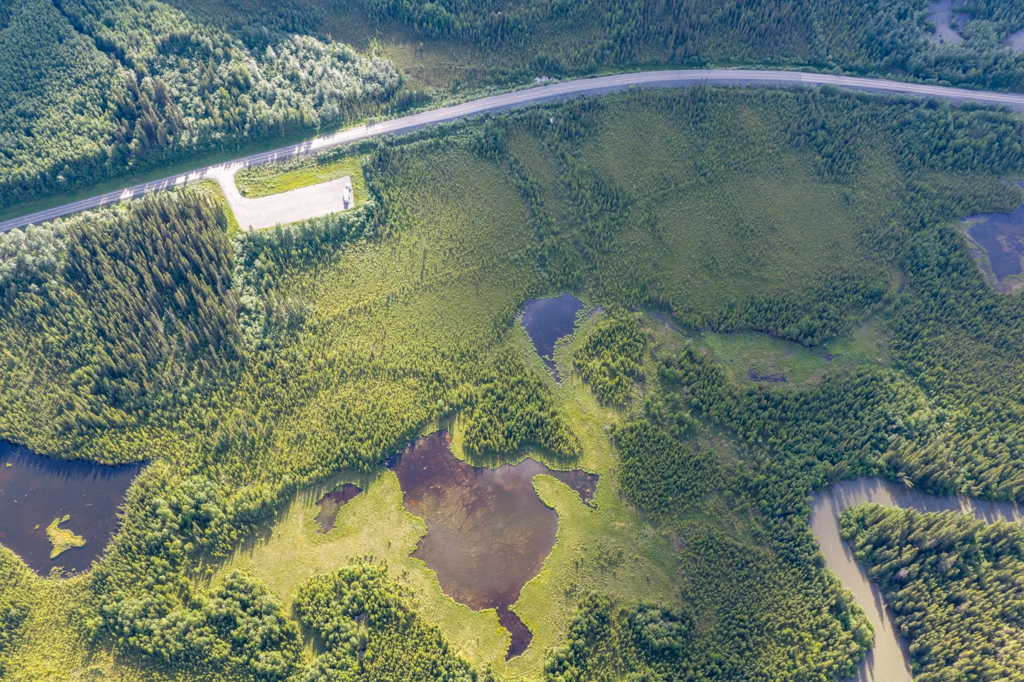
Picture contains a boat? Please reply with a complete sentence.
No, no boat can be seen from above.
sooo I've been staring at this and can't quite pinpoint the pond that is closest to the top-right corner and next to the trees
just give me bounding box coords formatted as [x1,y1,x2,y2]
[521,294,583,382]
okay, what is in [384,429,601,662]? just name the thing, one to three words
pond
